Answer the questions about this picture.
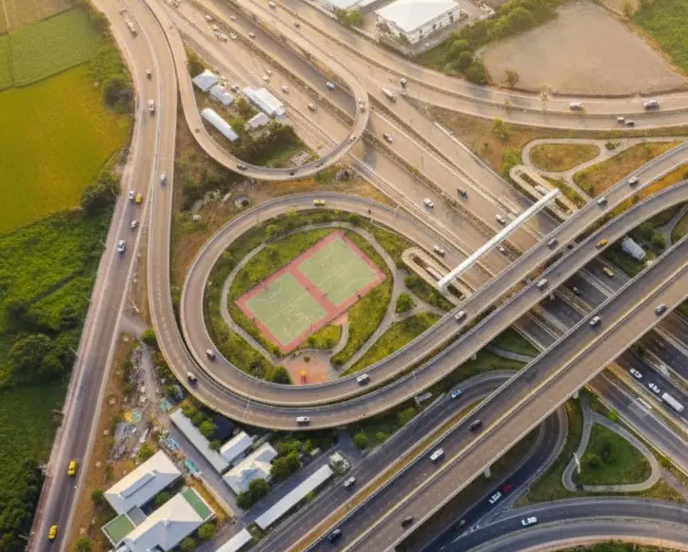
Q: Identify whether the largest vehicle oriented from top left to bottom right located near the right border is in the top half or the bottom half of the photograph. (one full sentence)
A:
The largest vehicle oriented from top left to bottom right located near the right border sits in the bottom half of the picture.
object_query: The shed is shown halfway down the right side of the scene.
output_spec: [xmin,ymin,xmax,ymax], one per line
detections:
[623,240,646,264]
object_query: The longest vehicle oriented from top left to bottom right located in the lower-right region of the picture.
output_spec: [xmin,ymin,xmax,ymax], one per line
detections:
[661,392,683,412]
